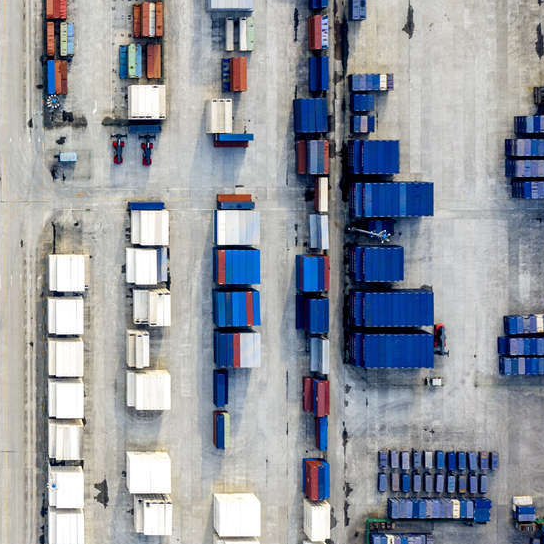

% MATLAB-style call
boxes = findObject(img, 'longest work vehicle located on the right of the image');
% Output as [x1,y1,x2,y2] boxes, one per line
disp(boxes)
[434,322,452,356]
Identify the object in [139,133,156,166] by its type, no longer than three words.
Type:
work vehicle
